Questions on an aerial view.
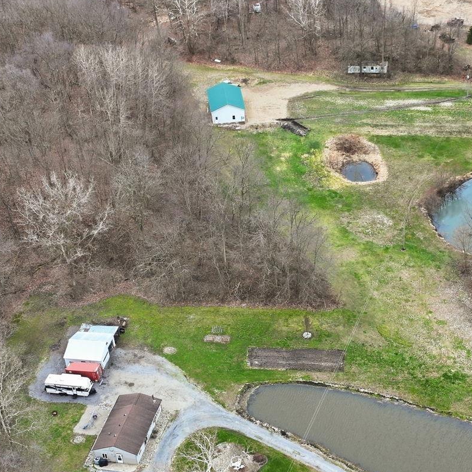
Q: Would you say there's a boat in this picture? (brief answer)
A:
No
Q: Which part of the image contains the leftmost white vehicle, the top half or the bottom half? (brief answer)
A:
bottom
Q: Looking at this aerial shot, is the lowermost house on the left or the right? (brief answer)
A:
left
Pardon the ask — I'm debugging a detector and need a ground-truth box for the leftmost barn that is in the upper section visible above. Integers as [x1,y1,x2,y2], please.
[210,85,246,124]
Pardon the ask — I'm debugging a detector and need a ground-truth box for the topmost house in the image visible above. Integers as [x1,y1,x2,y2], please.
[348,58,389,72]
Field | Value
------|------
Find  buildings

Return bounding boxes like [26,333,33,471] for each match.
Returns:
[62,330,114,369]
[89,392,156,464]
[210,85,246,124]
[348,58,389,72]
